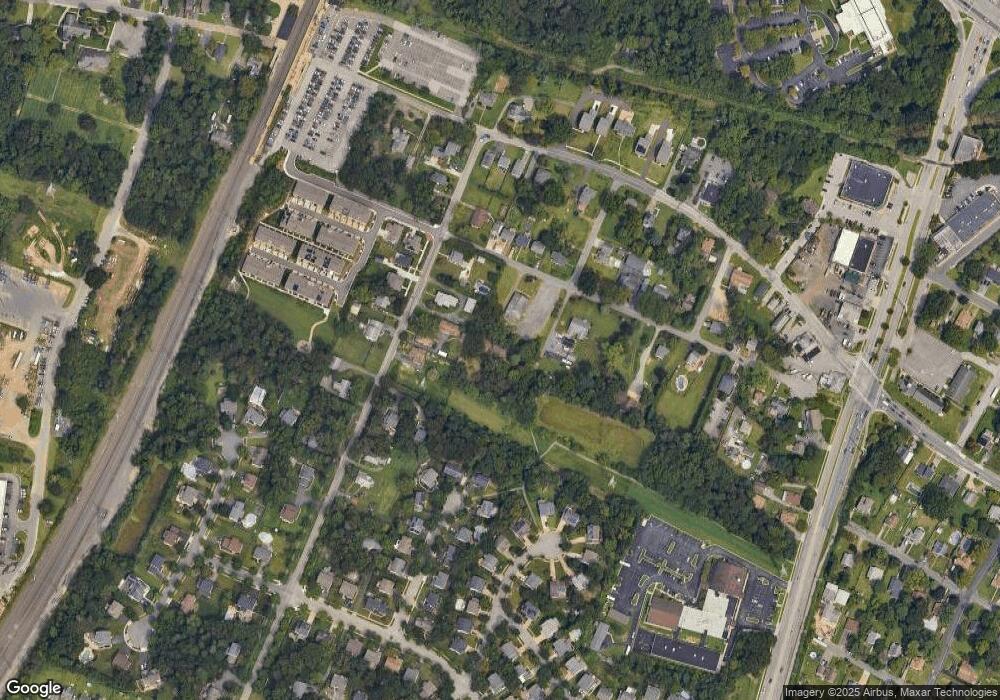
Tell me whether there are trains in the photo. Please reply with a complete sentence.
No, the frame has no train in it.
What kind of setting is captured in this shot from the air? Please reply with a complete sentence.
This looks like a residential area.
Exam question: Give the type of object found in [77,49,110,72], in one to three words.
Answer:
barn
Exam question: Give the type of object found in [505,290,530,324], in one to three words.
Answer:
building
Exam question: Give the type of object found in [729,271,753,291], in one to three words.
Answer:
house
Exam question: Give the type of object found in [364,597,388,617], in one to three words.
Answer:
house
